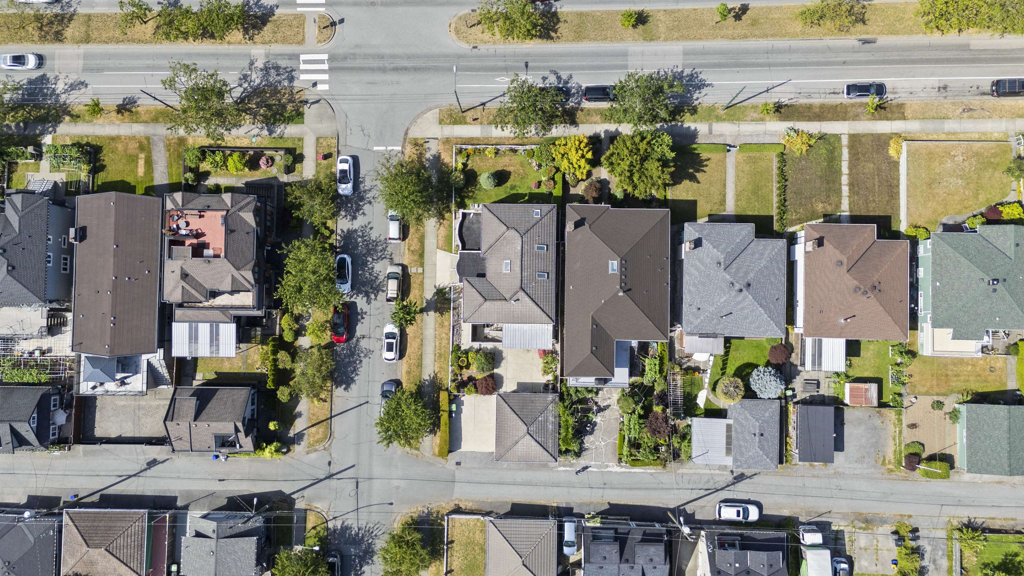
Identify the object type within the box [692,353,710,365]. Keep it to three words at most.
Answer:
umbrella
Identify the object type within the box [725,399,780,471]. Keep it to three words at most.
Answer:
building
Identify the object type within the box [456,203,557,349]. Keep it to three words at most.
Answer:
house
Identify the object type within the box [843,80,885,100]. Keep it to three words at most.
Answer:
car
